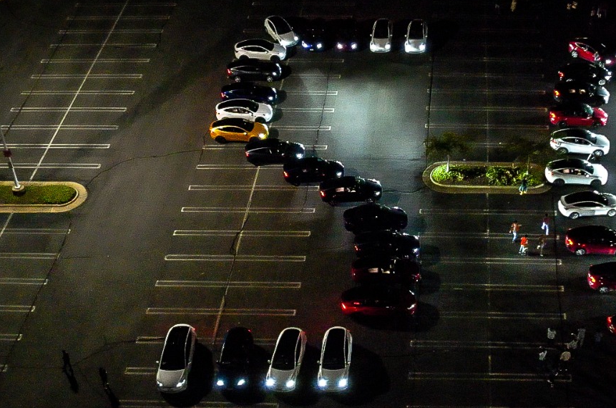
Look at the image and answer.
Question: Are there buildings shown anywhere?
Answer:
No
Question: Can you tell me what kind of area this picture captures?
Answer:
parking lot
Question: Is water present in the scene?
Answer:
No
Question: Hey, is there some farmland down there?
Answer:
No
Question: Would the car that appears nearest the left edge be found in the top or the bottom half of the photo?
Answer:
bottom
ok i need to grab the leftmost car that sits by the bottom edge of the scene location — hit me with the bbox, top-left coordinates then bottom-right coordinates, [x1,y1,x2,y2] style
[157,331,199,396]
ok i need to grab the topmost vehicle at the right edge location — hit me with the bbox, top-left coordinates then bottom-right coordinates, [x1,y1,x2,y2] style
[565,37,616,67]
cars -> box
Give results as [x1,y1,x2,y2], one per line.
[548,102,609,130]
[216,326,258,391]
[219,83,279,105]
[316,326,357,391]
[585,263,616,294]
[565,37,616,67]
[157,331,199,396]
[300,18,325,50]
[548,129,610,156]
[266,326,307,392]
[556,191,616,220]
[335,19,360,51]
[543,159,609,189]
[404,19,429,54]
[207,117,271,144]
[226,61,284,85]
[368,19,394,53]
[318,175,386,205]
[214,98,276,124]
[243,139,309,167]
[281,158,347,186]
[341,205,410,234]
[563,227,616,257]
[551,80,612,107]
[262,17,298,48]
[351,231,423,259]
[233,39,290,64]
[556,64,614,87]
